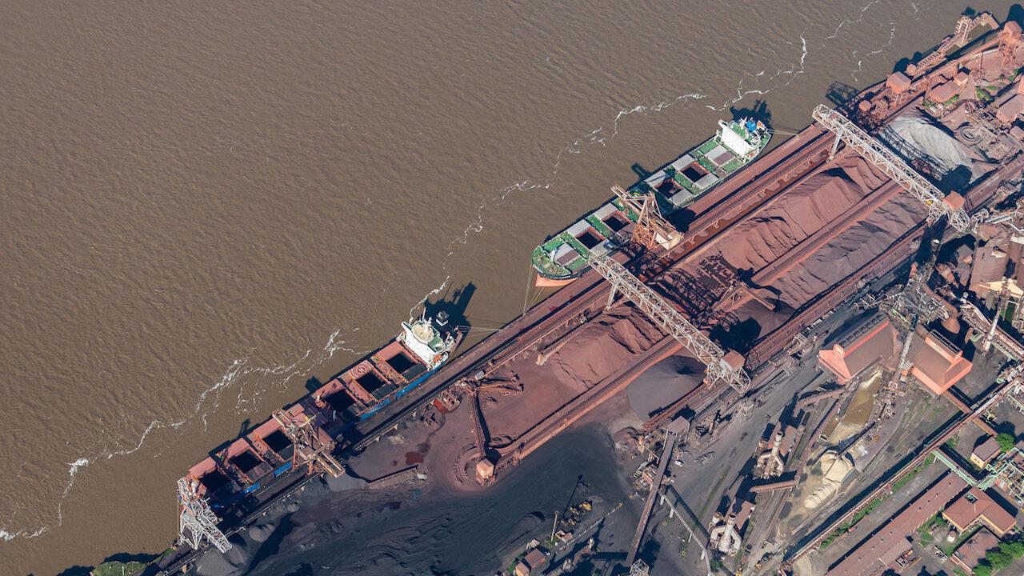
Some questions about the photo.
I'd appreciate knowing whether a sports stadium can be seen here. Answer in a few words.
No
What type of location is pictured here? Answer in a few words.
port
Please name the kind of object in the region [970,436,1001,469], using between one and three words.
house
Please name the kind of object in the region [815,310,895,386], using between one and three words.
building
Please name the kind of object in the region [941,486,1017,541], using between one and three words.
building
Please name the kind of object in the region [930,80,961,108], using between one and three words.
shed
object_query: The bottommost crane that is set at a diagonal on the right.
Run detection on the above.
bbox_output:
[588,247,749,400]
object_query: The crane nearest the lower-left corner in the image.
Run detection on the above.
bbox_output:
[165,475,232,555]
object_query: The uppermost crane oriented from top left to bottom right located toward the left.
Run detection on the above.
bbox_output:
[271,407,349,479]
